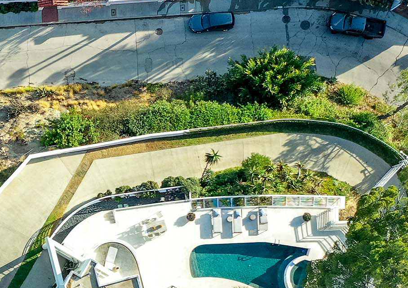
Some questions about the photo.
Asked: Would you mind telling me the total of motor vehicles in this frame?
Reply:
two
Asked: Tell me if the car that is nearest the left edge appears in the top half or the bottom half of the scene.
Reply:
top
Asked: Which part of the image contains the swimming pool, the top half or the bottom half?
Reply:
bottom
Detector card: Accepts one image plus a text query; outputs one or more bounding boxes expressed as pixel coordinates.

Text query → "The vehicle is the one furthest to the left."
[186,10,236,36]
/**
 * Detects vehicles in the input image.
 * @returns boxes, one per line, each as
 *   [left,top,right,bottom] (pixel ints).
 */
[186,10,236,36]
[325,11,388,42]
